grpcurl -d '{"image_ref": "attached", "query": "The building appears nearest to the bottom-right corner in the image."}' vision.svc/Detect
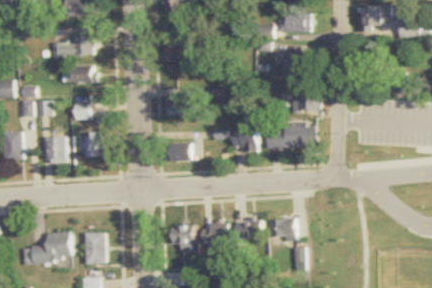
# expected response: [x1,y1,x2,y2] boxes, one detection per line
[295,246,309,272]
